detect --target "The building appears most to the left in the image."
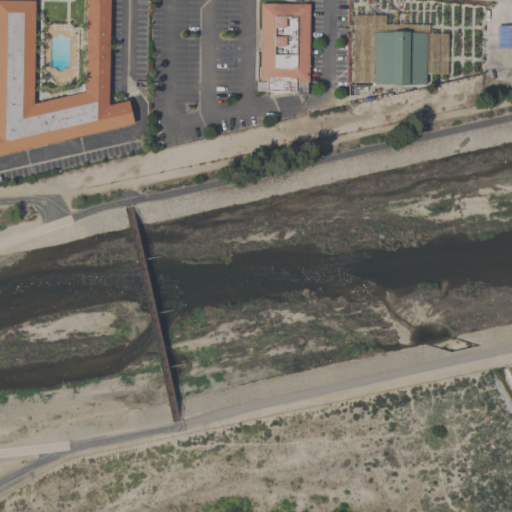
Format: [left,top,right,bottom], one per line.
[0,0,135,156]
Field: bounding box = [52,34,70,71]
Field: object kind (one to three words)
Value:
swimming pool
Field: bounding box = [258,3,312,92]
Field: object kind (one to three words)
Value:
building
